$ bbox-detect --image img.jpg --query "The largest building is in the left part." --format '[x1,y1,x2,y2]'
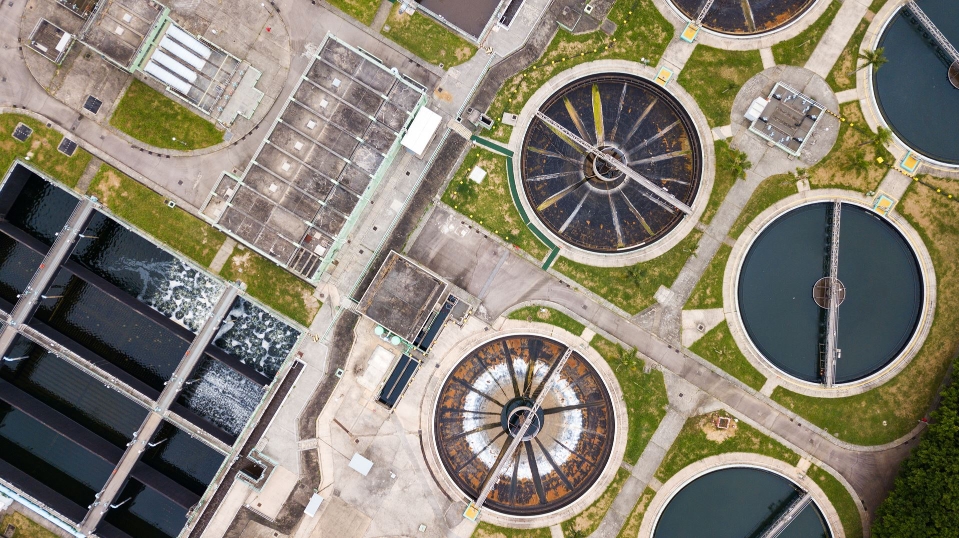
[198,31,429,284]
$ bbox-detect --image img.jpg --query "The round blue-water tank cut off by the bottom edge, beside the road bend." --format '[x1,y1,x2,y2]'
[637,452,848,538]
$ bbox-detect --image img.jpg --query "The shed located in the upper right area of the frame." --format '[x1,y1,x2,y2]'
[741,97,770,124]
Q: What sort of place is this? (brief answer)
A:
industrial area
